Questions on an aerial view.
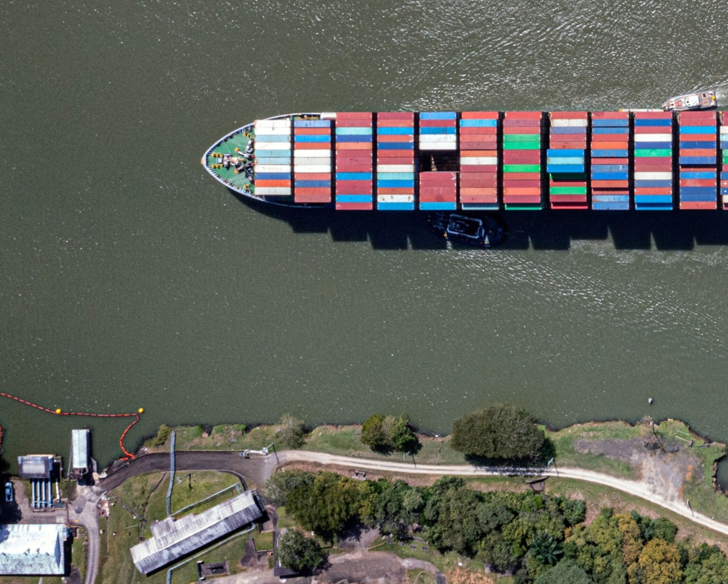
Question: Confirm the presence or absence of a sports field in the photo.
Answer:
No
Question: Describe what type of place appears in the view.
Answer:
port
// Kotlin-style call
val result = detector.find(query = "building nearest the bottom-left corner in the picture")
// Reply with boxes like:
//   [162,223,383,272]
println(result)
[0,522,69,575]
